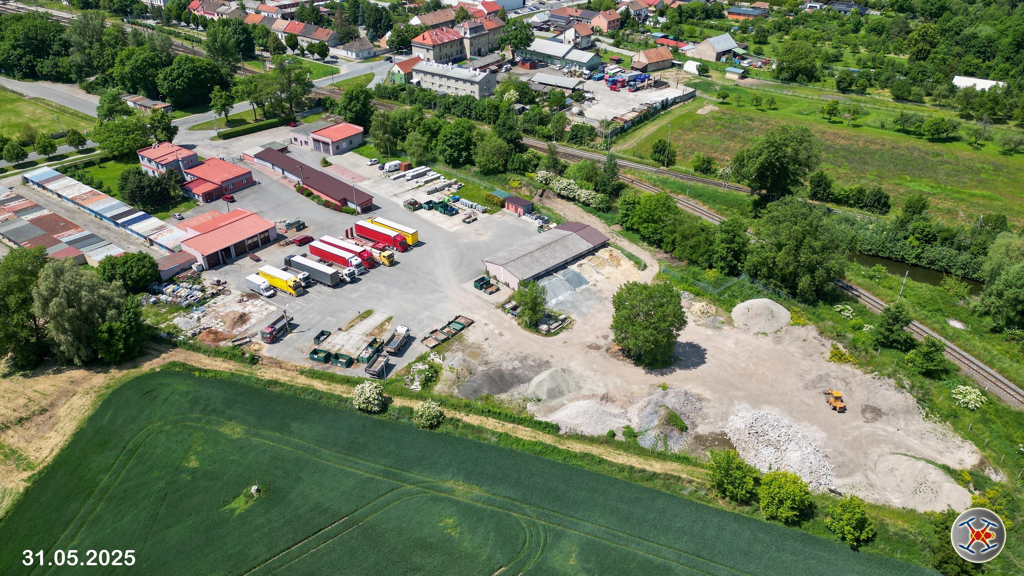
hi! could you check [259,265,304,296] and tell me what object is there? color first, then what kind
yellow truck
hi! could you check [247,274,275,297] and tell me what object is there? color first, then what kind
white vehicle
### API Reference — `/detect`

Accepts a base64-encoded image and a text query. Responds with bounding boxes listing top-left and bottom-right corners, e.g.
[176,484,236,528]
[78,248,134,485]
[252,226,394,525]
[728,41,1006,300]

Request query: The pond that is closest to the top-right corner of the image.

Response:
[847,252,987,293]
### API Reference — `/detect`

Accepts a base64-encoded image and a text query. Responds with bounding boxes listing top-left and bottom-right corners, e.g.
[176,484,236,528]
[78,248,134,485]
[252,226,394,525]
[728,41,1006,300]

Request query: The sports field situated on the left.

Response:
[0,93,100,155]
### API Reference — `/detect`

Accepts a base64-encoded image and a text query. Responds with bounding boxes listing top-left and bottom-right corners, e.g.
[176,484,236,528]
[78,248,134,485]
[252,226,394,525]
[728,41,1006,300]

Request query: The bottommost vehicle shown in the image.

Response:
[822,389,850,412]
